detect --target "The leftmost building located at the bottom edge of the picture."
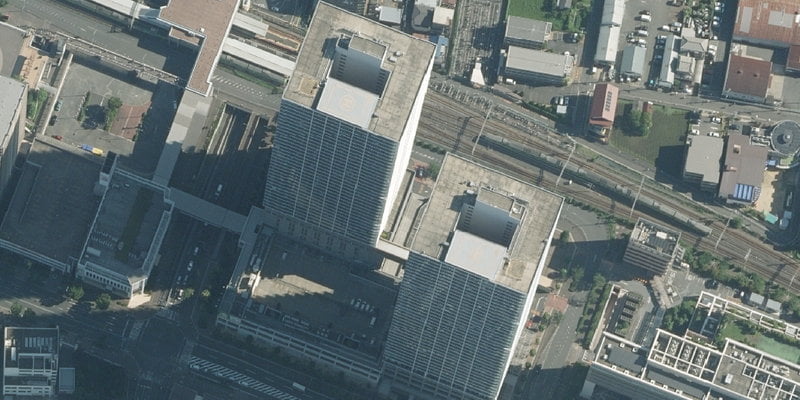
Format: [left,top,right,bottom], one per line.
[2,327,59,400]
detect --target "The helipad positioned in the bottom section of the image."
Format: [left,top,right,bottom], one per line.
[445,230,507,284]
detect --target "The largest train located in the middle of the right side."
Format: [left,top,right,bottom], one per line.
[478,135,712,234]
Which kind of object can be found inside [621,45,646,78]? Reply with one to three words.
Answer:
shed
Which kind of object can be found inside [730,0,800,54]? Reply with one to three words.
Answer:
building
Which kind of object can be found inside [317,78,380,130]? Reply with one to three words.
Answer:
helipad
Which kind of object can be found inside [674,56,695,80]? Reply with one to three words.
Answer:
house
